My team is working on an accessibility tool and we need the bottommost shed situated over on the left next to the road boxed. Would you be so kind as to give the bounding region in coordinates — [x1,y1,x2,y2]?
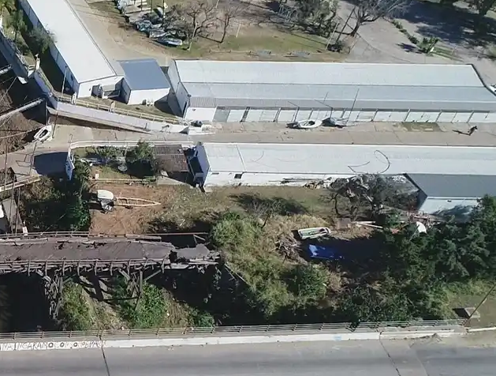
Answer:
[153,143,188,180]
